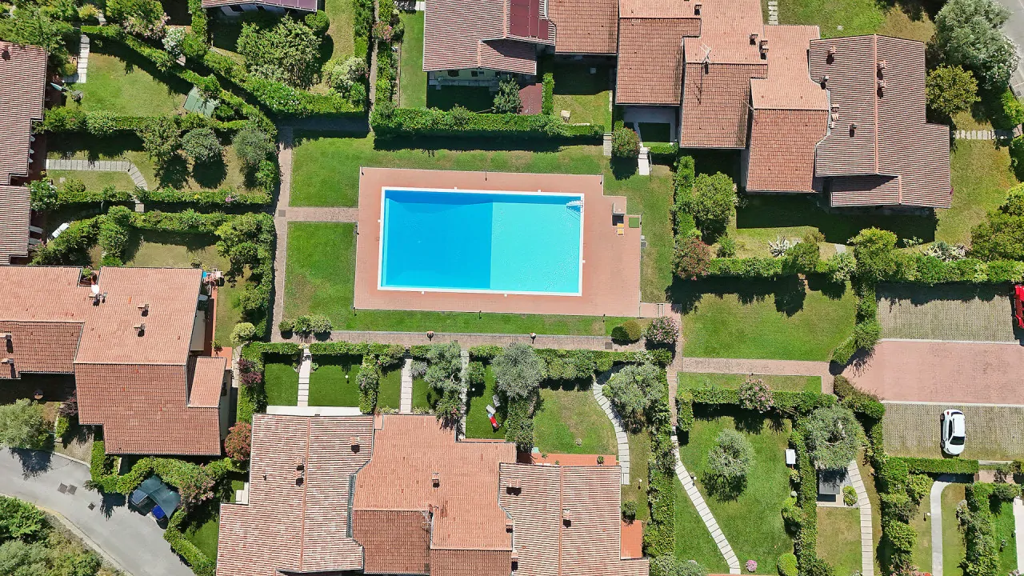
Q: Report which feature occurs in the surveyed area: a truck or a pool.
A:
pool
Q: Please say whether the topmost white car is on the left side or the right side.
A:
right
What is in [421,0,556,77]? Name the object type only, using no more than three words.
house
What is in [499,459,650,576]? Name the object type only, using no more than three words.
house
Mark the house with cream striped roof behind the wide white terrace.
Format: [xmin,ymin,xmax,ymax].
[214,411,374,576]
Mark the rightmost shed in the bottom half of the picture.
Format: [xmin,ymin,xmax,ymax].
[813,464,840,495]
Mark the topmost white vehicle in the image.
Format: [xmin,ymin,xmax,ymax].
[939,409,968,455]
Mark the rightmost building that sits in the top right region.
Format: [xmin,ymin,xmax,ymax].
[810,33,952,208]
